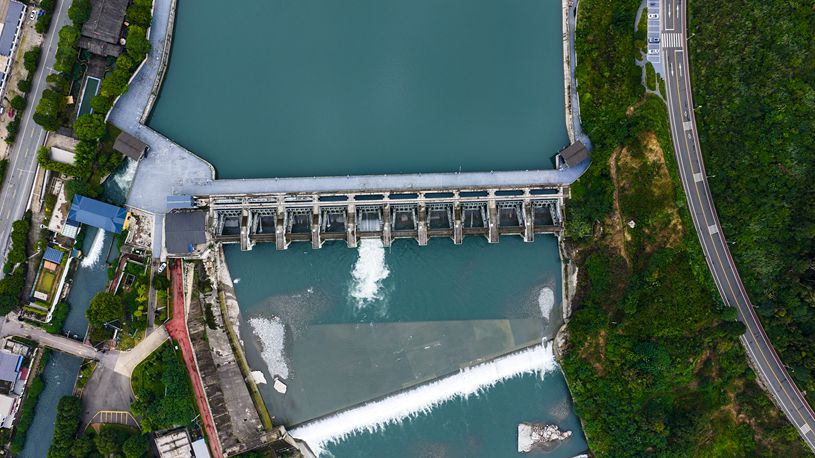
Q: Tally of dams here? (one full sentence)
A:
My tally gives 2 dams in this view.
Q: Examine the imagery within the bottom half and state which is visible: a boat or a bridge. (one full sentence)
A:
The feature located within the bottom half is a bridge.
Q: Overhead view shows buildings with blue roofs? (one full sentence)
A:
Yes, there's a building with a blue roof down there.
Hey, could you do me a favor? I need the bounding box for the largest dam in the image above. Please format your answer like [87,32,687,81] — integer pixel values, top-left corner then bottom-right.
[208,186,568,250]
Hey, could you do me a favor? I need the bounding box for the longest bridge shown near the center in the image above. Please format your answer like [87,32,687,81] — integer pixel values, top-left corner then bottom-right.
[190,171,562,197]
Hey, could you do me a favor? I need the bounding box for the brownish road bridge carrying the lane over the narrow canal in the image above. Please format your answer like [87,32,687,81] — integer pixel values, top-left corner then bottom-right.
[0,320,103,365]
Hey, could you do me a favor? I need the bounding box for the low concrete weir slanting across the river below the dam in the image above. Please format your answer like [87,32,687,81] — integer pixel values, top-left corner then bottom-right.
[289,342,557,433]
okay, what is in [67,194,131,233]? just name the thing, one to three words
building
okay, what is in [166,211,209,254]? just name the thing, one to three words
building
